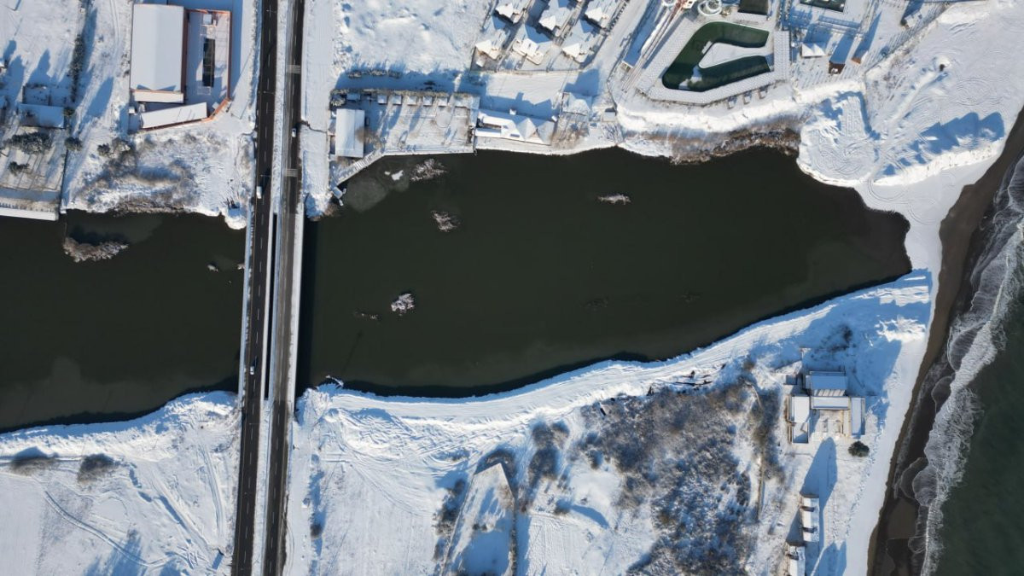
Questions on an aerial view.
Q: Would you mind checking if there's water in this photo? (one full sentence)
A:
Yes, some water is visible.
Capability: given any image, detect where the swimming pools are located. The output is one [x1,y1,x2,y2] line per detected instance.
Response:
[660,18,774,95]
[202,37,216,87]
[734,0,771,18]
[797,0,848,16]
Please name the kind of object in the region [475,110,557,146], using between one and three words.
house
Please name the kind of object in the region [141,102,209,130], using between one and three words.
shed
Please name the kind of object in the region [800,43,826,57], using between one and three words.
building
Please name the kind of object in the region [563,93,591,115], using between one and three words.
house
